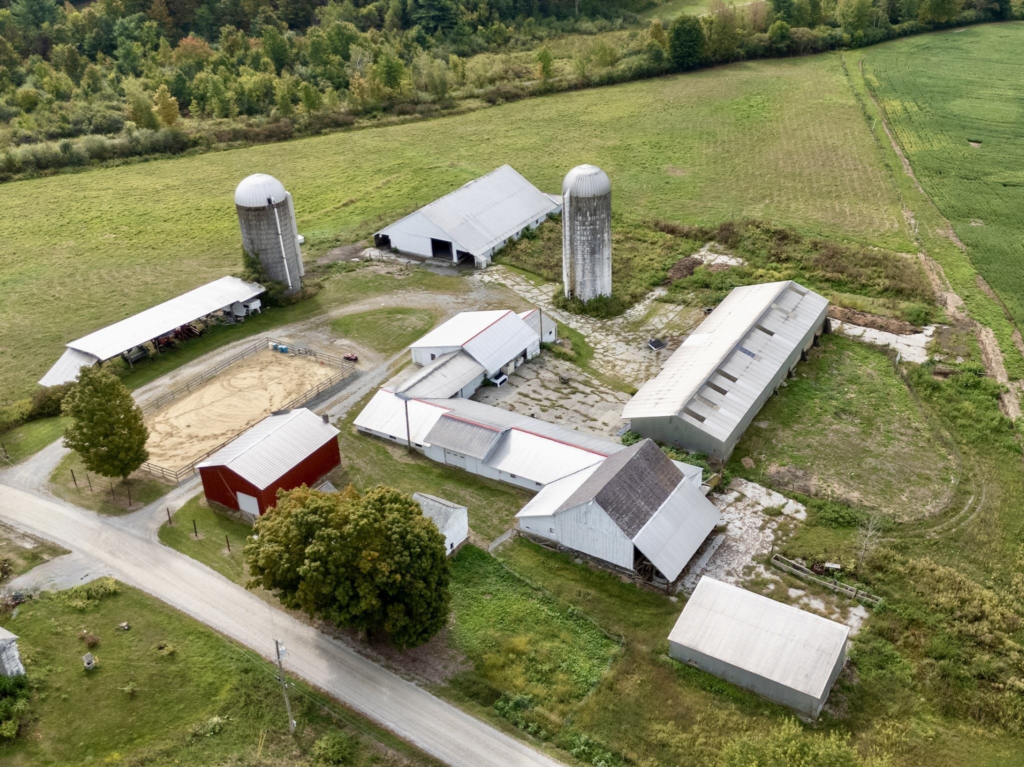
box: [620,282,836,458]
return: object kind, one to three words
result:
barn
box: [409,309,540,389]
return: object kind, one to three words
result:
building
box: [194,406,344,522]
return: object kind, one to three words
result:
barn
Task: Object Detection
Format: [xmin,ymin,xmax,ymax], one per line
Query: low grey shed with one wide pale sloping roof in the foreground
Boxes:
[666,575,852,715]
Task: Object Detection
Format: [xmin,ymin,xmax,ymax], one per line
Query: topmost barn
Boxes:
[373,163,564,267]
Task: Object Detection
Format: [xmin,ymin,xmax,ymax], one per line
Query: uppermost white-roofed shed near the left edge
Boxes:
[39,274,271,389]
